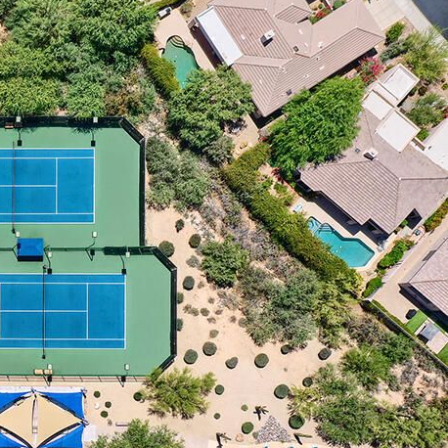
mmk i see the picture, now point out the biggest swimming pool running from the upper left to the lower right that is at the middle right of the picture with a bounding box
[308,213,378,270]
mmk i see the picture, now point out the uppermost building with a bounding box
[189,0,385,117]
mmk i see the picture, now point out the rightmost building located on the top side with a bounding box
[293,63,448,233]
